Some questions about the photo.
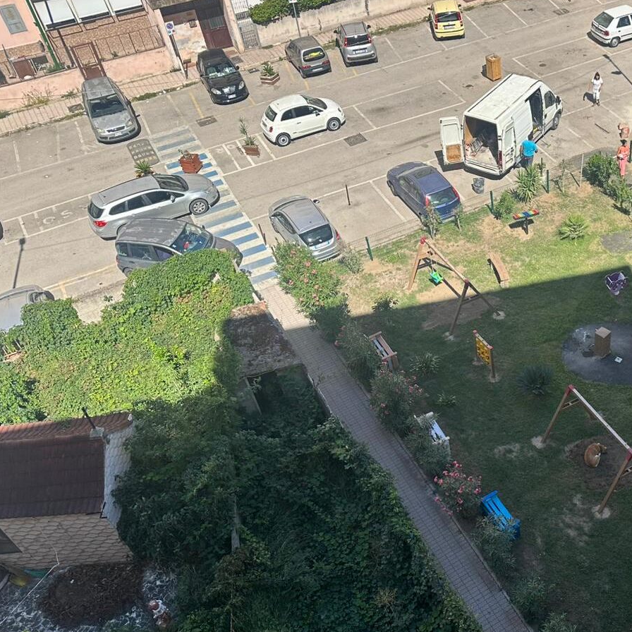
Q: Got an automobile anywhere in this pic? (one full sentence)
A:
Yes, there is an automobile in the image.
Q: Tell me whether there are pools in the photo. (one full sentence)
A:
No, I can't see a single pool in this photo.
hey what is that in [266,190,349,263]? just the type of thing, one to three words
car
